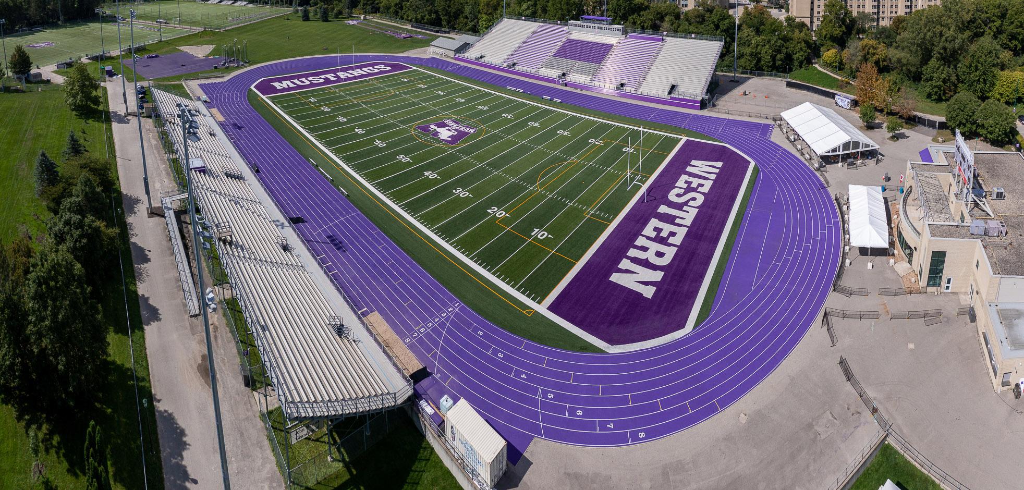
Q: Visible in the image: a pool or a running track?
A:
running track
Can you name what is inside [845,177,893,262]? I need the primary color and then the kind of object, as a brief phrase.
white tent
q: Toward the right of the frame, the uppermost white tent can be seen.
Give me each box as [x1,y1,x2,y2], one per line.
[779,102,880,169]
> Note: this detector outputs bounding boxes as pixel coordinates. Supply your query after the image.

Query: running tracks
[217,54,842,445]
